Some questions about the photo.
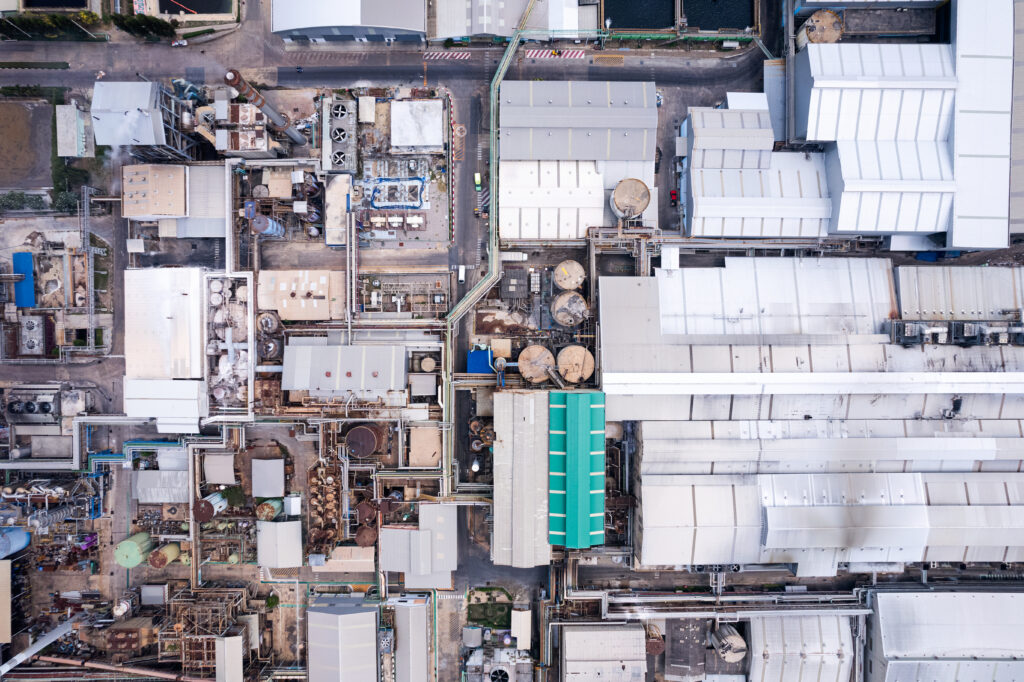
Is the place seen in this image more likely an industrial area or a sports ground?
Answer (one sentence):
This looks like an industrial area.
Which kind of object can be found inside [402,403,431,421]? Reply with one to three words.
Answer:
building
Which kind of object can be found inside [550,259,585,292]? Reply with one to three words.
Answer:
storage tank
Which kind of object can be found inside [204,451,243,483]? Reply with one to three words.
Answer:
building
